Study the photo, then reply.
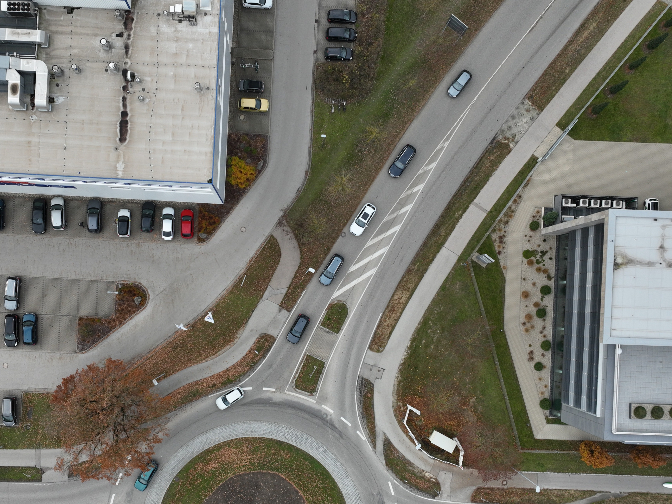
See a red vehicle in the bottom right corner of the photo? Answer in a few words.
No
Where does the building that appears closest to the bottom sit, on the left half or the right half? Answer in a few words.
right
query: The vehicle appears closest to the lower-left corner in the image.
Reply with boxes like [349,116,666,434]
[1,396,19,426]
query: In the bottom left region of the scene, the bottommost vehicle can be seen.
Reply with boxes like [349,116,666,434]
[134,458,159,491]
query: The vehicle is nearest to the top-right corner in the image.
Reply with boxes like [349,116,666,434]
[643,198,660,211]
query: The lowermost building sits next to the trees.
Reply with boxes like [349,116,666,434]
[427,428,457,453]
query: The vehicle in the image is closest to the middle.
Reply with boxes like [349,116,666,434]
[320,253,344,286]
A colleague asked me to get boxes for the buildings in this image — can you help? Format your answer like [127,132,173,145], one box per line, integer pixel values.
[427,428,457,453]
[541,207,672,446]
[0,0,233,204]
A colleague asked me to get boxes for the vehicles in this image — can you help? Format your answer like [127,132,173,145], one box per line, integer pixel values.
[326,26,357,43]
[239,78,265,94]
[447,69,473,100]
[390,143,415,179]
[1,396,19,426]
[49,198,66,231]
[327,7,357,25]
[238,96,269,113]
[0,200,5,229]
[243,0,273,9]
[140,202,155,232]
[216,386,244,409]
[116,210,131,237]
[3,314,20,347]
[21,314,38,344]
[324,45,353,62]
[134,458,159,491]
[351,202,376,237]
[160,207,176,240]
[320,253,344,286]
[643,198,660,211]
[86,201,103,233]
[4,277,21,310]
[179,209,195,239]
[287,313,310,344]
[31,200,48,233]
